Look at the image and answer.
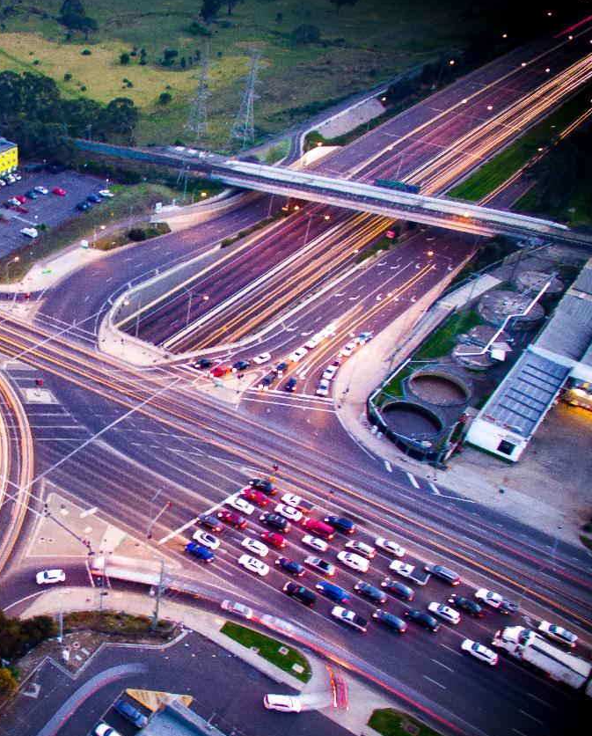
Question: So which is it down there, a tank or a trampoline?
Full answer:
This aerial view contains a tank.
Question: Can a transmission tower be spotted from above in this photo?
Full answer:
Yes, a transmission tower can be made out from above.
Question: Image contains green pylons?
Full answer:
No, no green pylon is visible in the view.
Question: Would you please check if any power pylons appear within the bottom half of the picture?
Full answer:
No, there's no power pylon to be seen within the bottom half of the picture.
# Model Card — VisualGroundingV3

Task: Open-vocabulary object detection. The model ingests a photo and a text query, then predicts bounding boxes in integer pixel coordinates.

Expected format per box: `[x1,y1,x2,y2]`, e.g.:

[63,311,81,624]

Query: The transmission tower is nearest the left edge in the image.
[177,39,219,142]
